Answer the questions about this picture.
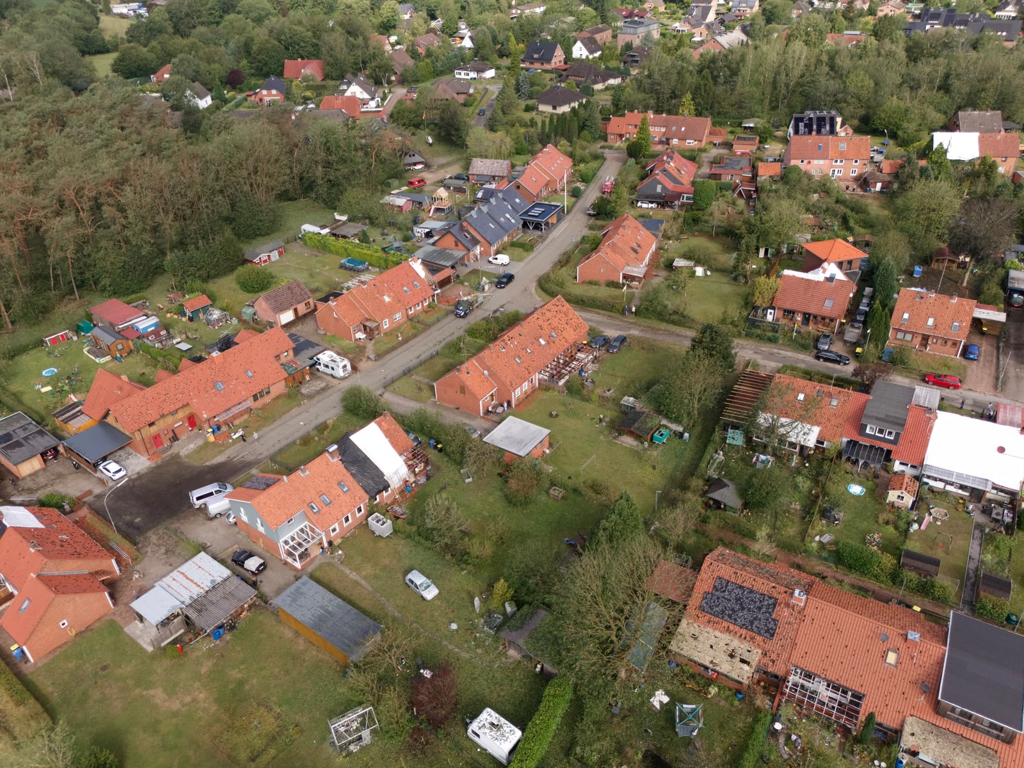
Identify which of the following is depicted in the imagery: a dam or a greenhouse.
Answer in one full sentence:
There is a greenhouse in the scene.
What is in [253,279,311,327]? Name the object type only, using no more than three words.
building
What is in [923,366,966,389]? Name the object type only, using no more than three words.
car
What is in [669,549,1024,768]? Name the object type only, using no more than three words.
house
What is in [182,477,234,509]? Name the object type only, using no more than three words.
van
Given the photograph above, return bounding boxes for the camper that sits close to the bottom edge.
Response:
[463,697,525,768]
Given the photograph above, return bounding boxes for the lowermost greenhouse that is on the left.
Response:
[325,708,381,765]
